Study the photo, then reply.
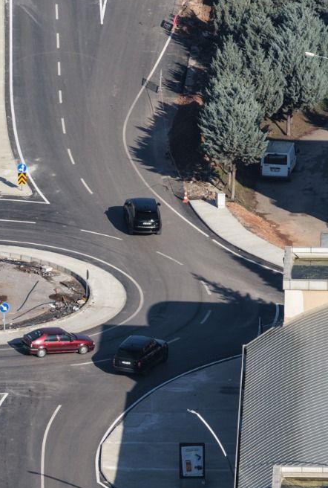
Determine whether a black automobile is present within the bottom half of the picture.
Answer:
Yes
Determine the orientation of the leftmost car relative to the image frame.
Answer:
from side to side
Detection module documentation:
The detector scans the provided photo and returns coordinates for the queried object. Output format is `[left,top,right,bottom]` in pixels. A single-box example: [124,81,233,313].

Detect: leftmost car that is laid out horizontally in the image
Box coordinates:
[20,325,97,357]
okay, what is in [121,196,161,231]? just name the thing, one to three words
car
